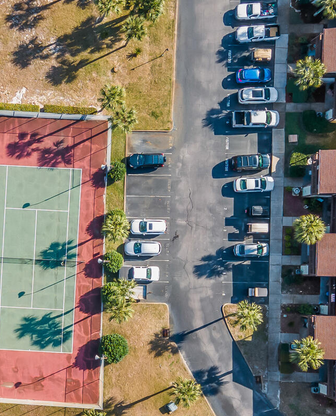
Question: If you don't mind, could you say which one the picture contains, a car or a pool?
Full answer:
I can see a car in this picture.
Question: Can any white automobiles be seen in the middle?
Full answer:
Yes, in the middle there is a white automobile.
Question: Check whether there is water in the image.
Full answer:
No, water can't be seen anywhere here.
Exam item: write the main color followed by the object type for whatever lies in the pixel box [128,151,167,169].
blue car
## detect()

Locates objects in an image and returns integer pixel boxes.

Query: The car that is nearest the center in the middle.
[130,217,168,236]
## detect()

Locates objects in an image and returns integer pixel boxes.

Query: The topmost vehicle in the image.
[234,0,280,22]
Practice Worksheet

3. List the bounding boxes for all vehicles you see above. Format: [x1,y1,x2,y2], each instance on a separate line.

[128,151,167,169]
[241,223,267,234]
[246,48,270,63]
[118,264,160,284]
[124,239,162,257]
[234,23,282,44]
[232,153,269,171]
[233,241,269,258]
[240,205,263,216]
[130,217,168,236]
[238,85,278,105]
[234,0,280,22]
[230,108,280,128]
[236,66,270,84]
[243,287,268,297]
[233,175,274,193]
